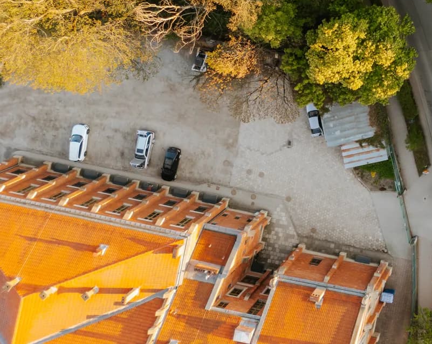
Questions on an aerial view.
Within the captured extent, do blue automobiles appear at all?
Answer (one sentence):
No, there is no blue automobile in the image.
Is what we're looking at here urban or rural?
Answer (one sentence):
It looks urban.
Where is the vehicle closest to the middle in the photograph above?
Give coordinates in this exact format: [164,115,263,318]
[162,142,184,183]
